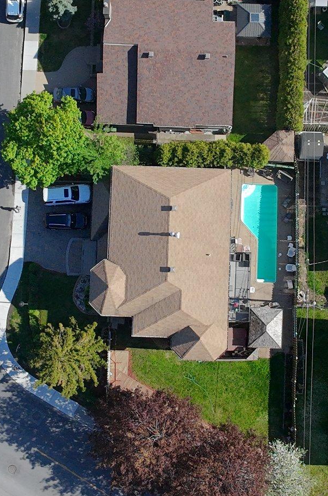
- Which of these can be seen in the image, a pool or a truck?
pool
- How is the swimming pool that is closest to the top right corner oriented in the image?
up and down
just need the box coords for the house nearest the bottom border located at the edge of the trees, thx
[89,166,231,362]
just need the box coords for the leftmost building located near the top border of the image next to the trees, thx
[96,0,236,139]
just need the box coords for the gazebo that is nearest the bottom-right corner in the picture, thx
[247,307,284,349]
